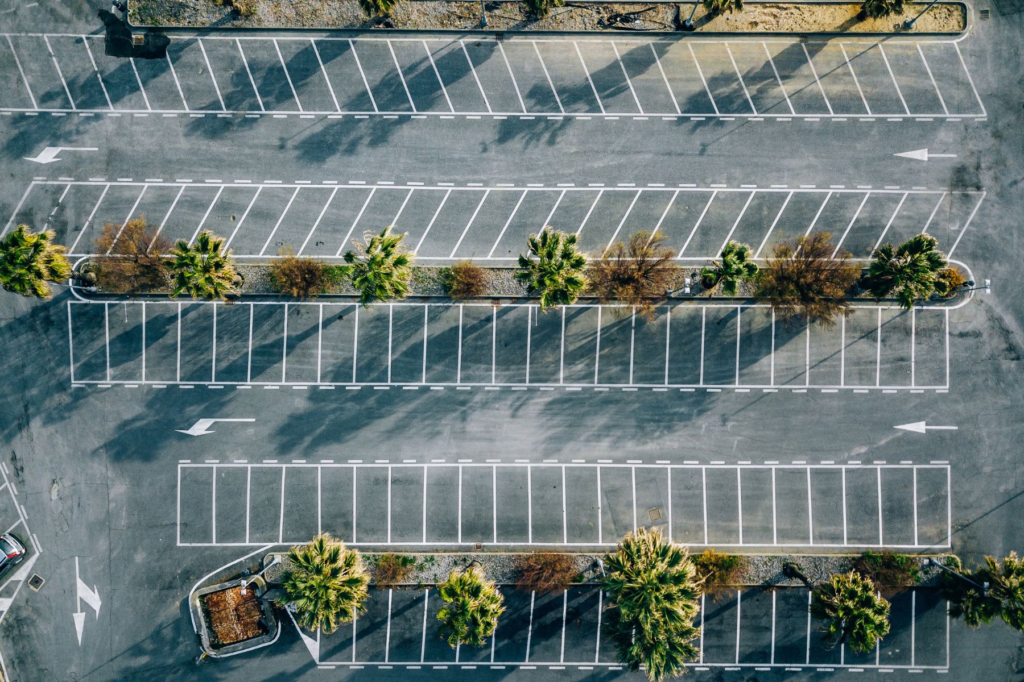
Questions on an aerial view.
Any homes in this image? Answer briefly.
No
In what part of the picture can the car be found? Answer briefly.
bottom left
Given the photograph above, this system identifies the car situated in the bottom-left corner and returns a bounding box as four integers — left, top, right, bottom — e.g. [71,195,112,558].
[0,536,29,586]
